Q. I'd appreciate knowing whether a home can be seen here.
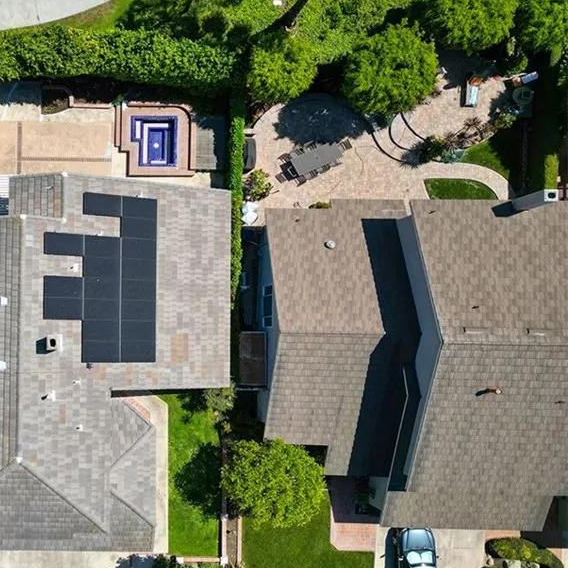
Yes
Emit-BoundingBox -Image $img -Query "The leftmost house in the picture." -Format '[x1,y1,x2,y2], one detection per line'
[0,174,232,552]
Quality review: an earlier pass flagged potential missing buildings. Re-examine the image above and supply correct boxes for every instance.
[256,187,568,528]
[0,174,232,552]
